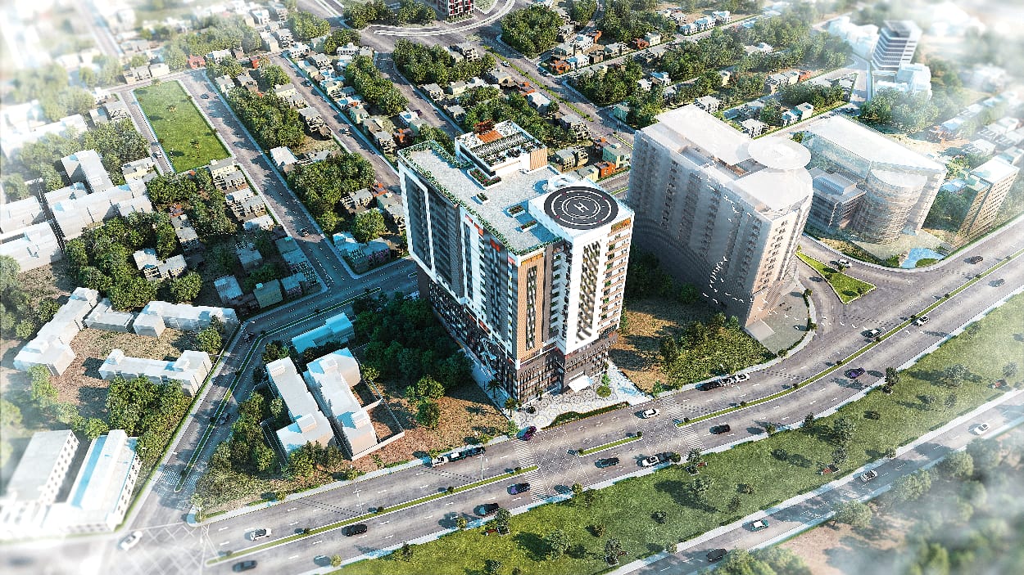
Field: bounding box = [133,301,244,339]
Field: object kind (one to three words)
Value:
building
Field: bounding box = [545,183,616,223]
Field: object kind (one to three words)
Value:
helipad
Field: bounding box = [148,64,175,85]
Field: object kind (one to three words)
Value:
house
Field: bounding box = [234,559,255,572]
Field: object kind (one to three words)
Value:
vehicle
